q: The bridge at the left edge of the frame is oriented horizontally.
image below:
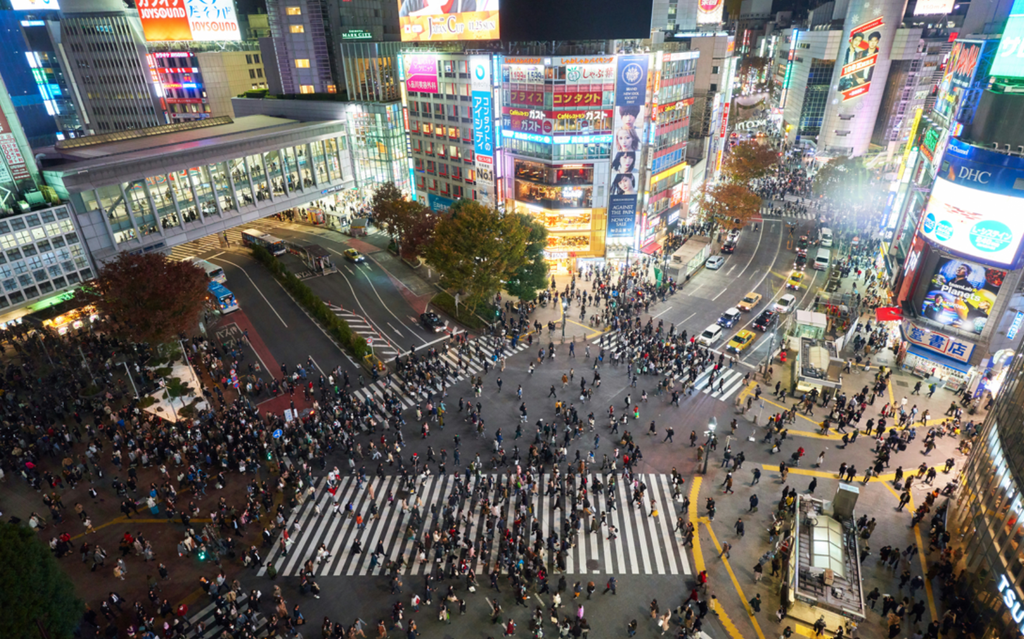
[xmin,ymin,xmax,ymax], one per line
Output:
[9,108,356,264]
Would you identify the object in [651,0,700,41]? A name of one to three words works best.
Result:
building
